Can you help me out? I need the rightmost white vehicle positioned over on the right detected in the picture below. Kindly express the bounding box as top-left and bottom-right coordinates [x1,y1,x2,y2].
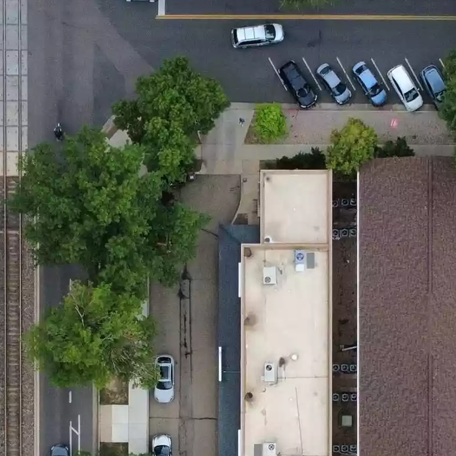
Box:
[385,61,422,115]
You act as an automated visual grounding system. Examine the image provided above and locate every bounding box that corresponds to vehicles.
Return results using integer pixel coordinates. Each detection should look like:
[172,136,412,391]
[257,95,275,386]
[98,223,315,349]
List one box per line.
[154,354,176,403]
[230,18,284,52]
[315,60,351,109]
[51,443,71,456]
[350,60,386,110]
[279,57,317,113]
[418,61,455,116]
[151,435,174,456]
[385,61,422,115]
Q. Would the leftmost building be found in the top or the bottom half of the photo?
bottom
